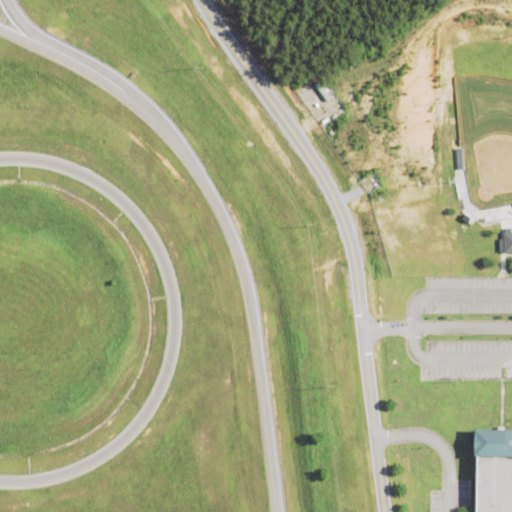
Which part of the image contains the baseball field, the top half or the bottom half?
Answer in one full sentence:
It is in the top half that the baseball field appears.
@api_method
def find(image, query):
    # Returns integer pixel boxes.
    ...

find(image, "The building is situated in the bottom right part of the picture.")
[474,430,512,512]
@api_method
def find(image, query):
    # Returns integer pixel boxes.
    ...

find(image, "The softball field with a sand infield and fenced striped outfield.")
[456,76,512,210]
